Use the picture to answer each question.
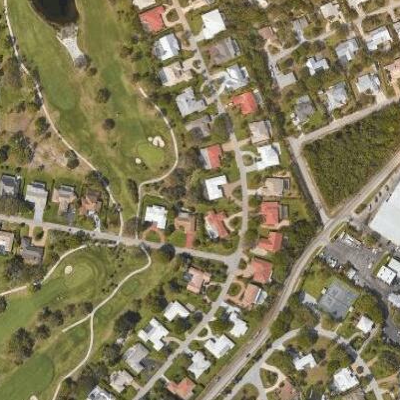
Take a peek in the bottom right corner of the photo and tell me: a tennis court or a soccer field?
tennis court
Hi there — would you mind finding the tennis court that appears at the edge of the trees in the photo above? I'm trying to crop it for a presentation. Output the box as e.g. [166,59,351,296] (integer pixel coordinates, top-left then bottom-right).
[320,274,366,323]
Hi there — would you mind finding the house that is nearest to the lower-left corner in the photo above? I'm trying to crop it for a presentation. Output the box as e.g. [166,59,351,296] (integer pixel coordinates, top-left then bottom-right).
[85,382,113,400]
